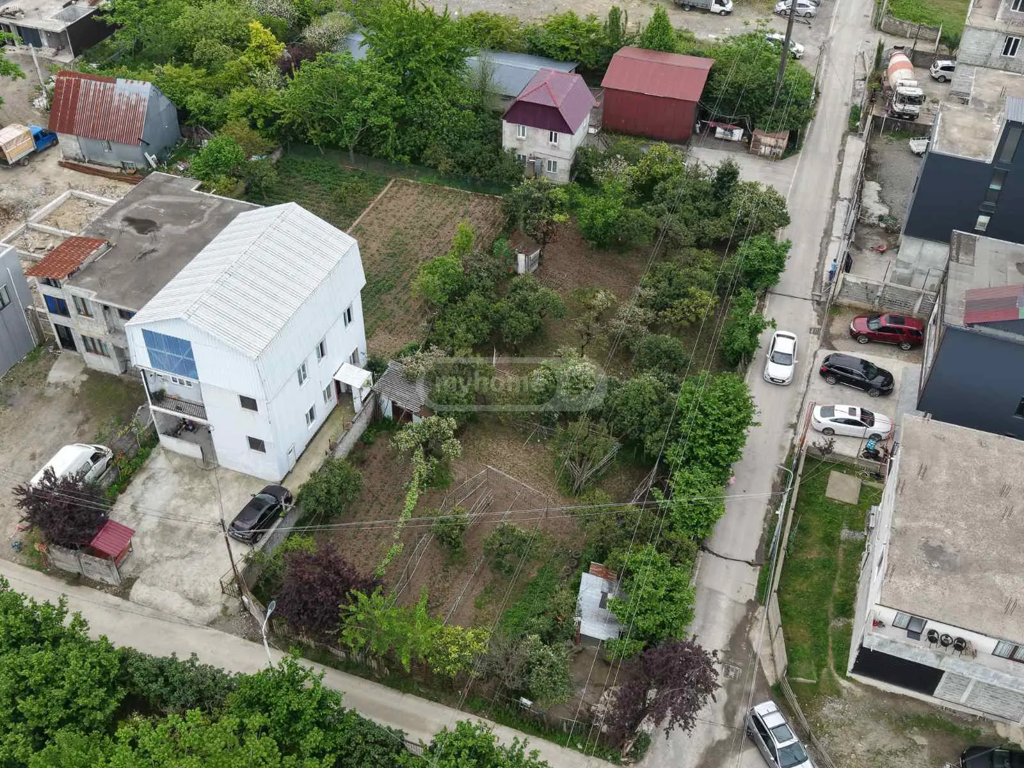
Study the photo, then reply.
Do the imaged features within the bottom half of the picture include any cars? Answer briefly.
Yes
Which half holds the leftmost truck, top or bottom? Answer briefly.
top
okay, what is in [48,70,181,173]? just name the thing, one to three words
house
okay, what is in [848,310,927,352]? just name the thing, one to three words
car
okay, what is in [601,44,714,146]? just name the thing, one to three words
barn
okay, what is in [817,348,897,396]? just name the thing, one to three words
car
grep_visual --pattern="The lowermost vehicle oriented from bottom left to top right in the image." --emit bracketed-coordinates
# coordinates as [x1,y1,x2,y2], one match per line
[220,479,295,547]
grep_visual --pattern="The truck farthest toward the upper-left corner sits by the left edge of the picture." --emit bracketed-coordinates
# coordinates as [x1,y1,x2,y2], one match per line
[0,118,56,166]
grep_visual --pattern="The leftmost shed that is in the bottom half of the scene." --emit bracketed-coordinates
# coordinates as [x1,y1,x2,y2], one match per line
[80,516,133,569]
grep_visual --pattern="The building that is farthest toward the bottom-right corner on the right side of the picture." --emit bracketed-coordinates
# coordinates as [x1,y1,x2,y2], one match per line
[837,413,1024,736]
